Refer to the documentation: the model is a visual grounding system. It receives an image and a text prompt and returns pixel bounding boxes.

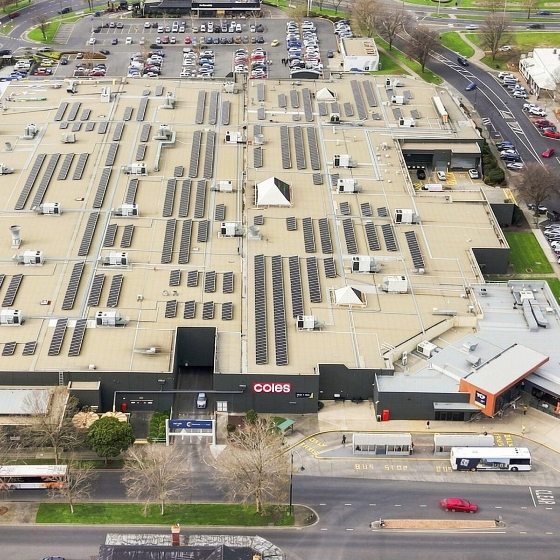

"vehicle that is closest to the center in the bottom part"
[194,387,208,411]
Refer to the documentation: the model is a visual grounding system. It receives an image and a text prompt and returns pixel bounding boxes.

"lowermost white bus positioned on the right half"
[449,443,533,471]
